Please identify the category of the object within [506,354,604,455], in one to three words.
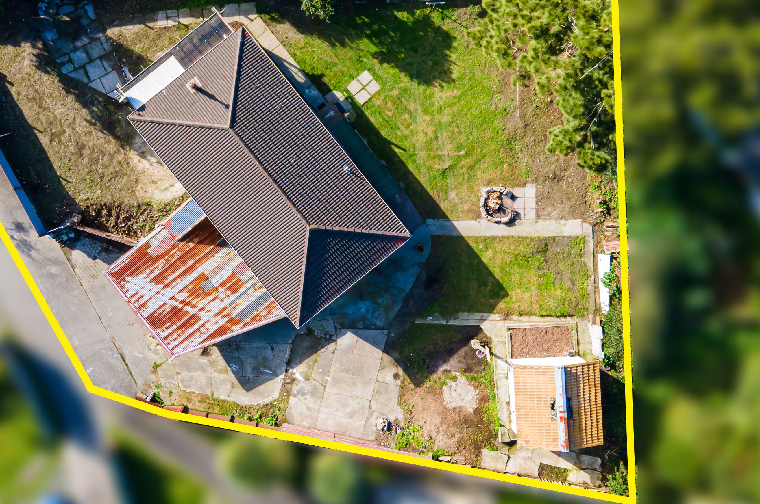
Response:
shed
